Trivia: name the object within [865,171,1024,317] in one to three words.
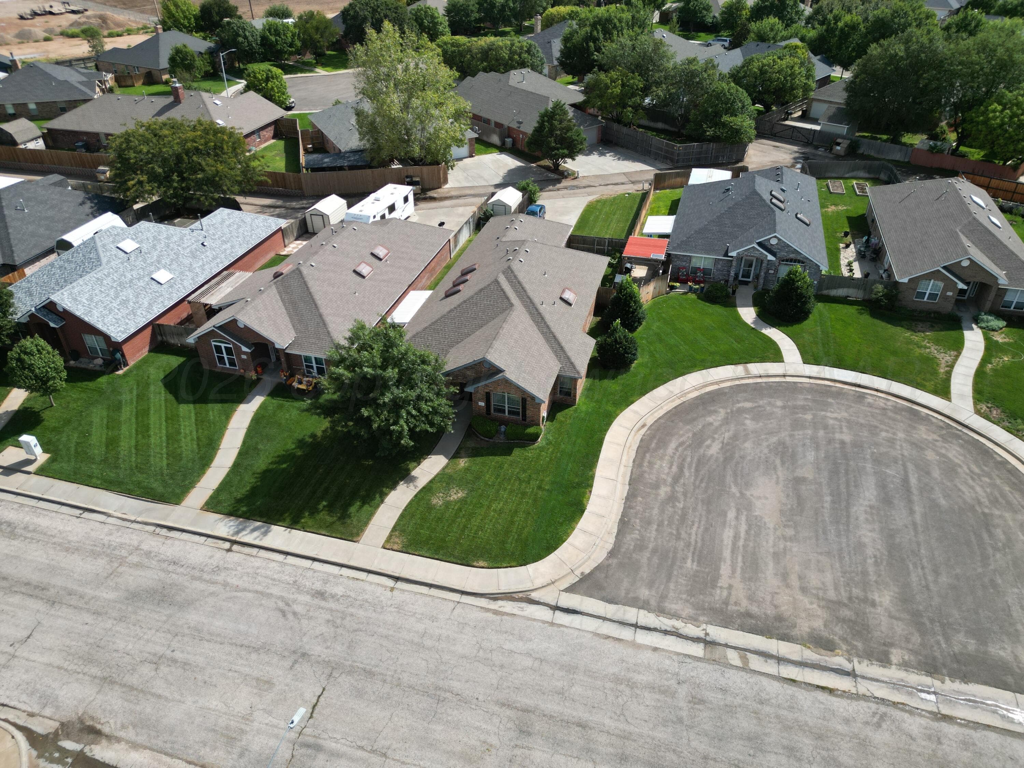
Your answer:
house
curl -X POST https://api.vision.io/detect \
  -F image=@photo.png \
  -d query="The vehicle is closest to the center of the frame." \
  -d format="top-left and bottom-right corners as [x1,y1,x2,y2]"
[523,197,555,218]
